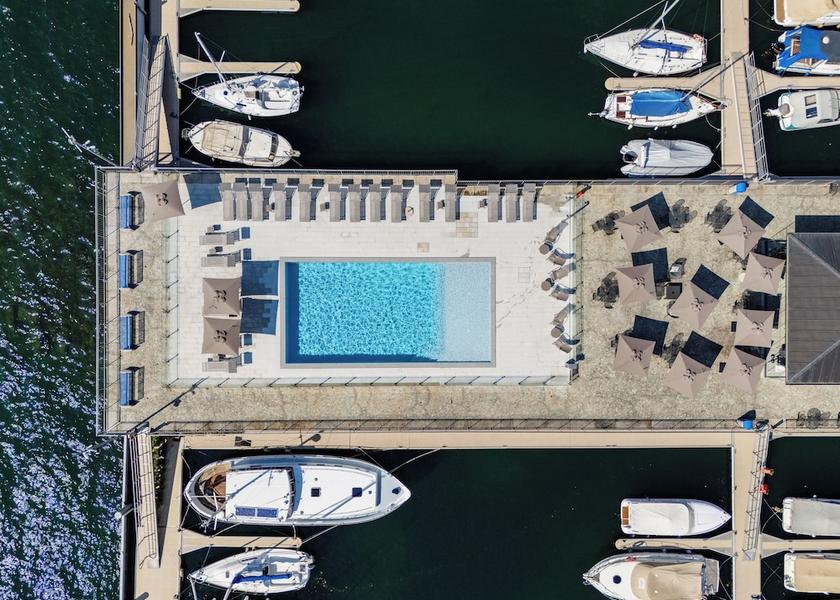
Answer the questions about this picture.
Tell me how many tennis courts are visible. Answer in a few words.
none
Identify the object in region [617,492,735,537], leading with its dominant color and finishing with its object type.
white boat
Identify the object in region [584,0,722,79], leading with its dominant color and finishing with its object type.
white boat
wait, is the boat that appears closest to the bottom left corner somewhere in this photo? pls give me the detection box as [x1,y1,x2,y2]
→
[181,547,317,600]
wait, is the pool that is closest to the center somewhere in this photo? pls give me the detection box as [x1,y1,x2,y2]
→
[280,257,495,368]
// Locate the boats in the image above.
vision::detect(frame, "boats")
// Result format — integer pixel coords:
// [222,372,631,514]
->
[181,547,317,600]
[762,549,840,600]
[180,447,437,539]
[611,137,722,176]
[760,491,840,537]
[179,121,303,170]
[582,547,735,600]
[178,31,305,152]
[751,28,840,78]
[748,0,840,30]
[755,88,840,132]
[587,51,755,132]
[617,492,735,537]
[584,0,722,79]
